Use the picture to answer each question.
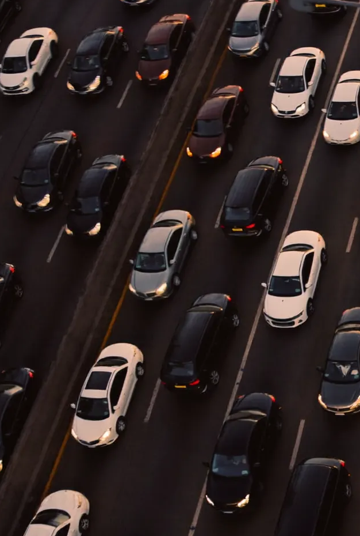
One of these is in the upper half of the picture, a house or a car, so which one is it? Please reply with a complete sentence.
What appears in the upper half of the picture is a car.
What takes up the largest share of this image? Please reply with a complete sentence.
For the most part, this view shows paved ground.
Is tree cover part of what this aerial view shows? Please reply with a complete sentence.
No, there's no tree cover in this view.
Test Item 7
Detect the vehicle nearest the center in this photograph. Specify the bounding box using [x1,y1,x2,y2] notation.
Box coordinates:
[130,212,198,301]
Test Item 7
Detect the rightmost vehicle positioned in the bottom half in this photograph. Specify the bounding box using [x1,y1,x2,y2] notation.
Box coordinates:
[316,310,360,415]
